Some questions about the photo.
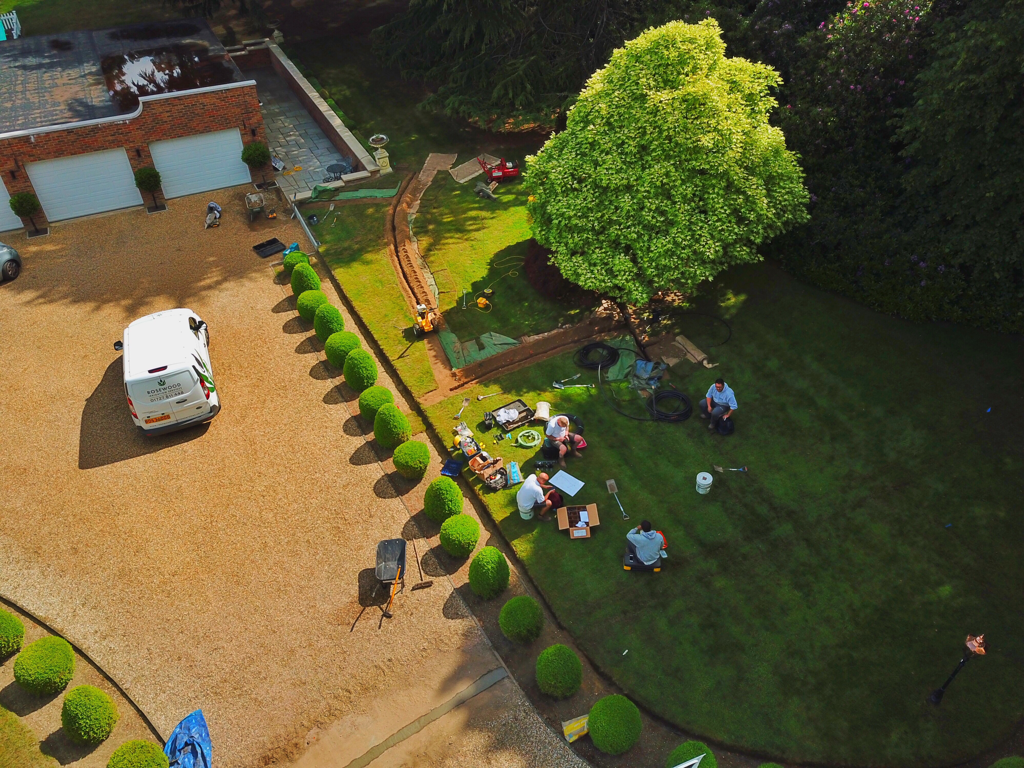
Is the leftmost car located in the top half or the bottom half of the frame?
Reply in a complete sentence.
It is in the top half that the leftmost car appears.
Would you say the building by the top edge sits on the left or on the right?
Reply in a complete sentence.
The building by the top edge is on the left side of the image.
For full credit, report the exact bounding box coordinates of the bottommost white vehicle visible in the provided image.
[110,302,224,437]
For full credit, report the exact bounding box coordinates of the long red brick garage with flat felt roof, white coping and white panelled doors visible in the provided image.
[0,16,276,230]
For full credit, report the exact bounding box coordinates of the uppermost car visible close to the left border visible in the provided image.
[0,230,27,280]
